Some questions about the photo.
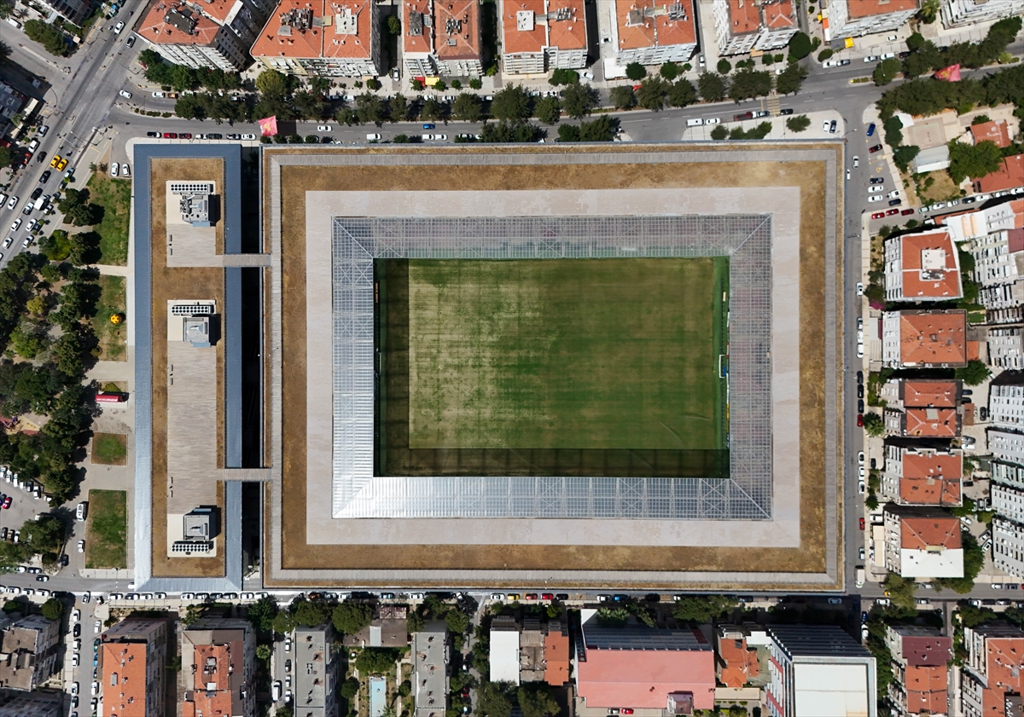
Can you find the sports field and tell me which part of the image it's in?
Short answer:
center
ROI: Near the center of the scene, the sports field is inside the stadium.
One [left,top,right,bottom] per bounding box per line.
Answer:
[375,259,729,476]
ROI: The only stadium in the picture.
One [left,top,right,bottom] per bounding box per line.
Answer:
[261,144,845,592]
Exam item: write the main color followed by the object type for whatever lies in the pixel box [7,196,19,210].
white vehicle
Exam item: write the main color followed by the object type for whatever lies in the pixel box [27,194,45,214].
white vehicle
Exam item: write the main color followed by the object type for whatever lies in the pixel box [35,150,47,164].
black vehicle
